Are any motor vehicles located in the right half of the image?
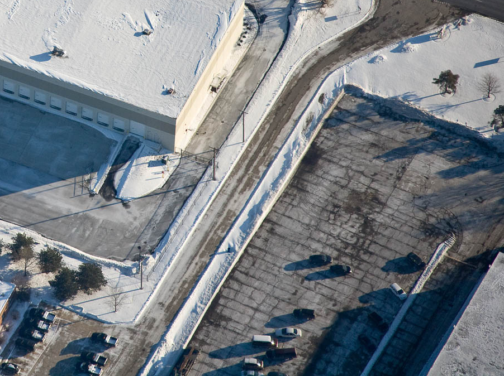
Yes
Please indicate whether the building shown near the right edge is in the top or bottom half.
bottom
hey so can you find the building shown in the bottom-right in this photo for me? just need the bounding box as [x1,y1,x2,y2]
[421,250,504,376]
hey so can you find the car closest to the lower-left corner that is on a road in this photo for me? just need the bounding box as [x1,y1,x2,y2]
[0,360,23,374]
